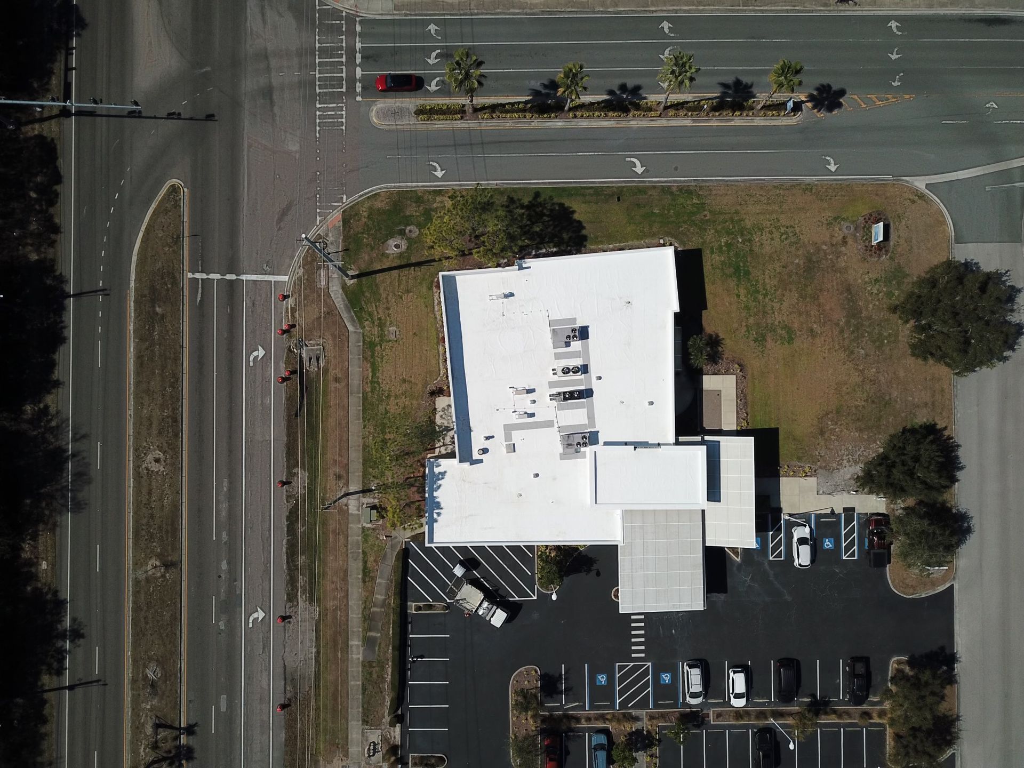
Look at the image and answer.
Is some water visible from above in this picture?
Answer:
No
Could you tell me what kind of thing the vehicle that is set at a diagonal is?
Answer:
truck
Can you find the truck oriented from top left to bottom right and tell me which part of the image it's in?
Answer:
bottom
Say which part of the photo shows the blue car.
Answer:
bottom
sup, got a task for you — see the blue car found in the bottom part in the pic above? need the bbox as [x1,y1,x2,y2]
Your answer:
[591,731,611,768]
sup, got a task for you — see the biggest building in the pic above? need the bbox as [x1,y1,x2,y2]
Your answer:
[427,248,755,612]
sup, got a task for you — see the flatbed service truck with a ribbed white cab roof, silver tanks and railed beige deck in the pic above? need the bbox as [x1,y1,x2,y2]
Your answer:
[446,577,515,635]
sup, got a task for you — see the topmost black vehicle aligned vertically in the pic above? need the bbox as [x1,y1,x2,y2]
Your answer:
[864,513,887,564]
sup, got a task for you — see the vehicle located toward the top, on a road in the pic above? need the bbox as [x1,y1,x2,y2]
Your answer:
[375,70,416,92]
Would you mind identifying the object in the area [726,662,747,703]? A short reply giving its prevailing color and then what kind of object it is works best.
white car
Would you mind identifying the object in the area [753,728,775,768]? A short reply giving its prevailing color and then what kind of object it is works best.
black car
